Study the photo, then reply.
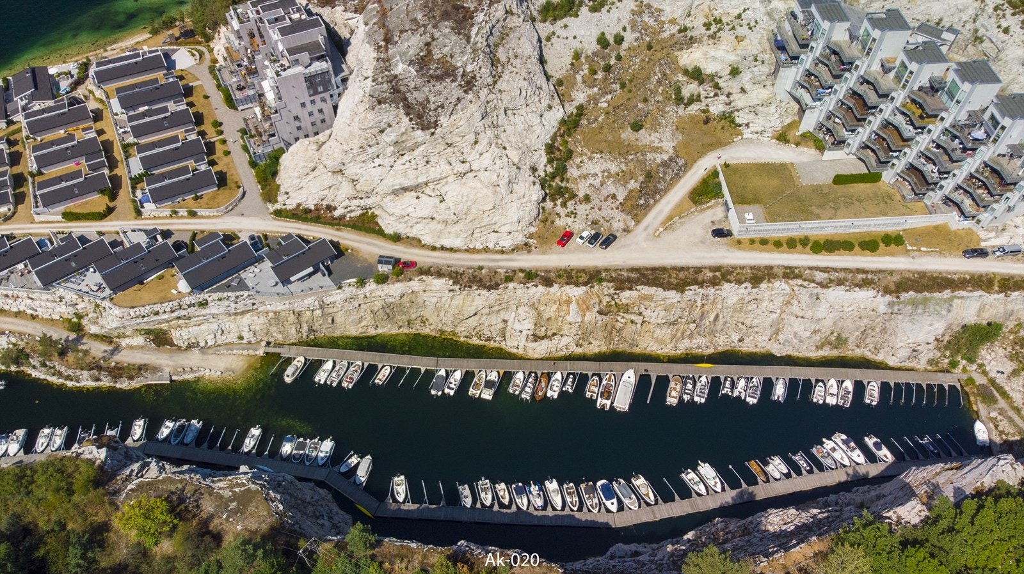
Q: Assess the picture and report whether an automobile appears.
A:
Yes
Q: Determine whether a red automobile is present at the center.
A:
Yes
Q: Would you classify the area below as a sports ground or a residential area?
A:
residential area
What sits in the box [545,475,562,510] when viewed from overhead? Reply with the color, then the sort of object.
white boat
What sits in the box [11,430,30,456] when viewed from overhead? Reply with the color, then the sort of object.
white boat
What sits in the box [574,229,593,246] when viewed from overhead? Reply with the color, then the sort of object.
white car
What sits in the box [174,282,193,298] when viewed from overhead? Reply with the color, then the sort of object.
white umbrella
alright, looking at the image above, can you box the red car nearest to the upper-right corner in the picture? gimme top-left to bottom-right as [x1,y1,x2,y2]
[555,230,573,249]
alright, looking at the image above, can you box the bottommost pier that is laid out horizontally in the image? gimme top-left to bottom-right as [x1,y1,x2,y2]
[0,441,977,529]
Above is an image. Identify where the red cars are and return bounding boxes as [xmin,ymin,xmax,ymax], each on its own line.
[396,259,417,269]
[555,230,573,249]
